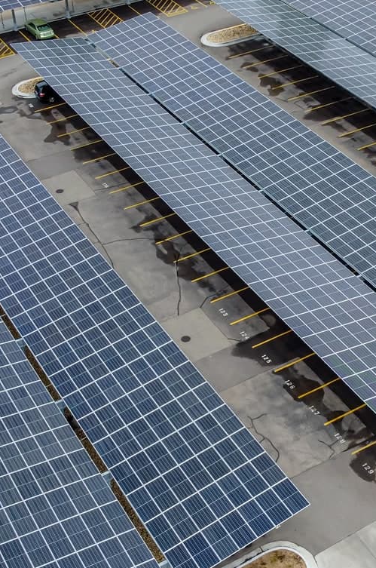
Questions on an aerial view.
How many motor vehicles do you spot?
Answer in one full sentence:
Altogether the scene contains 2 motor vehicles.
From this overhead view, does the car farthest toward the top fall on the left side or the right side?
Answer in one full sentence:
The car farthest toward the top sits on the left side.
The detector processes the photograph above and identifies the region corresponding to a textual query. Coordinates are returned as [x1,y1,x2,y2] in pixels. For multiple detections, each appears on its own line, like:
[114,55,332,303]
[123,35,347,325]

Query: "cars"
[22,18,53,40]
[35,80,61,104]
